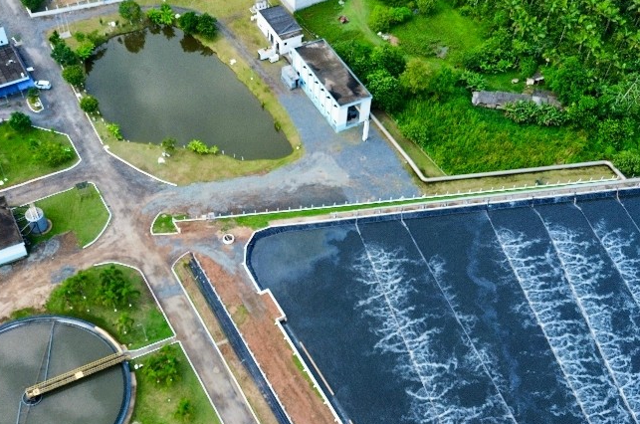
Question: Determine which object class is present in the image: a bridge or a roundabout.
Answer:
bridge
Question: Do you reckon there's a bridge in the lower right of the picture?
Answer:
No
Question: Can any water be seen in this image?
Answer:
Yes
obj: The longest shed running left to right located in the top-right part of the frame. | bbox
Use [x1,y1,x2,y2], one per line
[474,87,550,115]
